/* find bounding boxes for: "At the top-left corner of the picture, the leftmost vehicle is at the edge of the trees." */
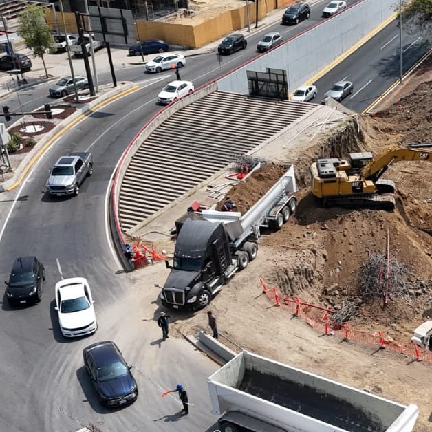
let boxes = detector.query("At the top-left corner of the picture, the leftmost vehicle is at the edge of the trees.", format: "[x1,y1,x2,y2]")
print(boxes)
[0,52,34,72]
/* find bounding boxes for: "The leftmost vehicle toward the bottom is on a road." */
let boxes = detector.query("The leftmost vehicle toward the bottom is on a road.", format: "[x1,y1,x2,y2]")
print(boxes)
[6,253,55,303]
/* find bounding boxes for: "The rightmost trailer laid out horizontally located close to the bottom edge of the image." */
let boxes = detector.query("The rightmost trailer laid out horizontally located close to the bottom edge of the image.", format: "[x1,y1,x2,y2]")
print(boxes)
[205,347,416,432]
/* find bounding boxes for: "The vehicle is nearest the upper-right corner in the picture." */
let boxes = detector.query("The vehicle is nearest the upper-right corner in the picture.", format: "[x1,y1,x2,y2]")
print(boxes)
[325,2,351,18]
